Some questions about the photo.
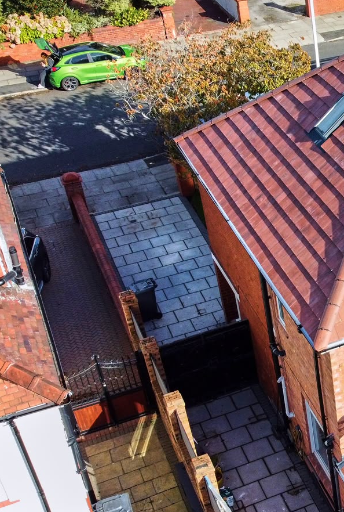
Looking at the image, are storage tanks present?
No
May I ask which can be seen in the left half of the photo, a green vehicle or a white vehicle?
green vehicle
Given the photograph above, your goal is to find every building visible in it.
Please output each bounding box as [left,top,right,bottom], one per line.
[0,161,114,512]
[170,50,344,512]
